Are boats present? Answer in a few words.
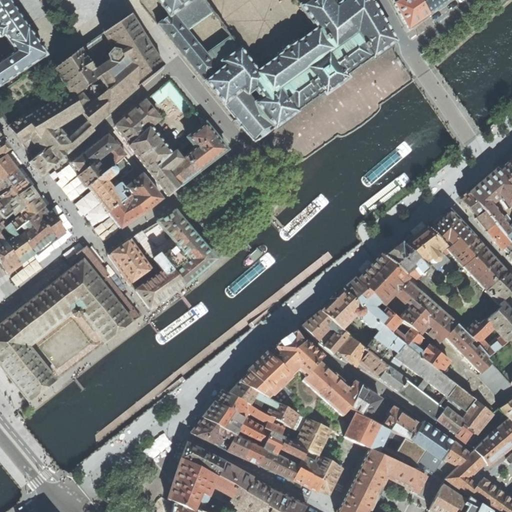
Yes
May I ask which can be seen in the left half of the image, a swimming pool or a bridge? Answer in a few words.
bridge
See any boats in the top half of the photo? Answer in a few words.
Yes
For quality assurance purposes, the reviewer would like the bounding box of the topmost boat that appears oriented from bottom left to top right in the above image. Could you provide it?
[364,142,412,185]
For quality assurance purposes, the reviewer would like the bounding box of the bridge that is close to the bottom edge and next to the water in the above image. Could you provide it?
[0,420,72,492]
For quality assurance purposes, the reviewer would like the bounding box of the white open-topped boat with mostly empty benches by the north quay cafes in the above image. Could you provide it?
[157,303,208,344]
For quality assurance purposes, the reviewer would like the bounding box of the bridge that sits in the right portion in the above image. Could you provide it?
[414,66,481,146]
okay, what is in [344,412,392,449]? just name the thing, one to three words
house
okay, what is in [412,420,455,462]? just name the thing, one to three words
house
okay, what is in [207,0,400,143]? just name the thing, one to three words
building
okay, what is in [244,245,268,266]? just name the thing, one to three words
boat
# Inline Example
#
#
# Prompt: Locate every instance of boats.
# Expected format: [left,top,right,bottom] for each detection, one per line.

[157,303,208,344]
[244,245,268,266]
[226,254,274,296]
[360,174,410,212]
[280,196,330,239]
[364,142,412,185]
